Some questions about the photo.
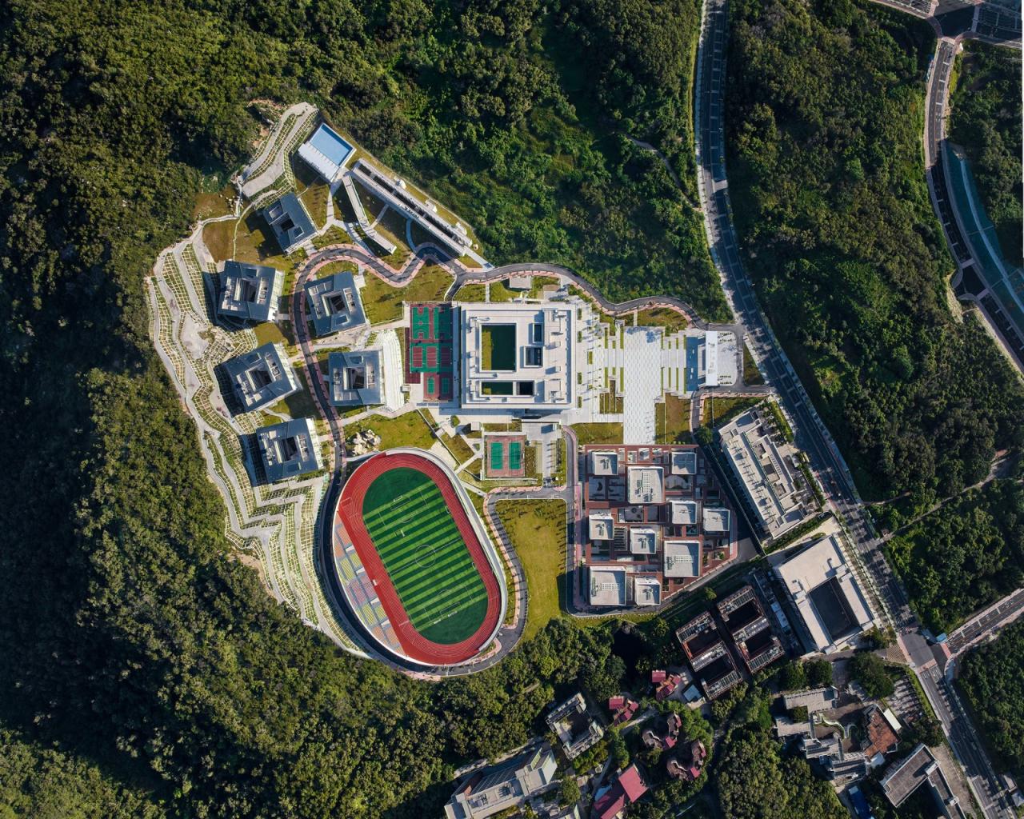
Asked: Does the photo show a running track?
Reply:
Yes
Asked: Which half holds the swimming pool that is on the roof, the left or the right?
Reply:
left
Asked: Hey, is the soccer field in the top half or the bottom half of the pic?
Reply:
bottom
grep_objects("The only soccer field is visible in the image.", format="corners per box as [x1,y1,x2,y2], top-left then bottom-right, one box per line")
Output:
[363,467,488,644]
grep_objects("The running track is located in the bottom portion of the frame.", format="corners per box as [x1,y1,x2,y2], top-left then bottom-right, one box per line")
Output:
[338,453,501,666]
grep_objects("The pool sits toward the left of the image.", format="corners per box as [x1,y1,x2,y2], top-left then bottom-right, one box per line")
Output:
[312,126,353,166]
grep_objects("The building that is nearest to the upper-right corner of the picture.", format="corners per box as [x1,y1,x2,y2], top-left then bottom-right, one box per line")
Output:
[704,331,718,386]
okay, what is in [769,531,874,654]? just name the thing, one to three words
building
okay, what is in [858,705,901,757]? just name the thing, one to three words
house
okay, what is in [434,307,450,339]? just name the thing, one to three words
basketball court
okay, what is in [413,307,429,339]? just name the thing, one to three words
basketball court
